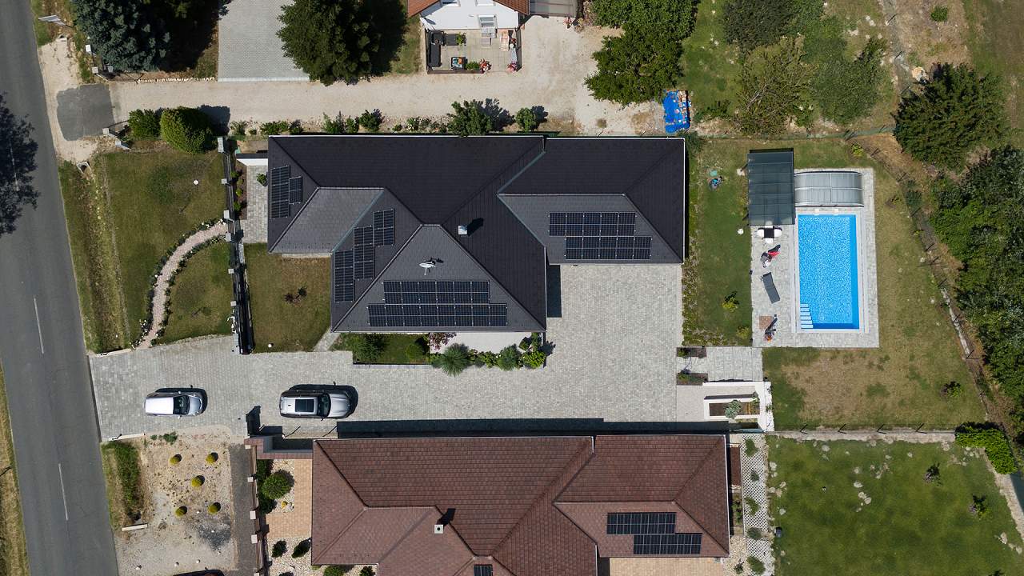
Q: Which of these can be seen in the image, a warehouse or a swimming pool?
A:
swimming pool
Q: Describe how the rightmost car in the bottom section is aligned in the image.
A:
horizontally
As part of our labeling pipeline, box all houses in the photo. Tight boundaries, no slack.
[266,135,687,333]
[310,433,731,576]
[406,0,530,31]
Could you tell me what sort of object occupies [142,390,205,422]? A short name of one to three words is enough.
car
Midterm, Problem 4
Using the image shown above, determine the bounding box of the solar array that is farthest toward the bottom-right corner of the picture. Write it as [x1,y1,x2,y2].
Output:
[605,514,704,555]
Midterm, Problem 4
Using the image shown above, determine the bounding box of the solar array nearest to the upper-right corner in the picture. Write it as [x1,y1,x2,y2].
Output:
[548,213,653,260]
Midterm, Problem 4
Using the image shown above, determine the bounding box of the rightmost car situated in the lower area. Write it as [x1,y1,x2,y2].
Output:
[279,388,350,423]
